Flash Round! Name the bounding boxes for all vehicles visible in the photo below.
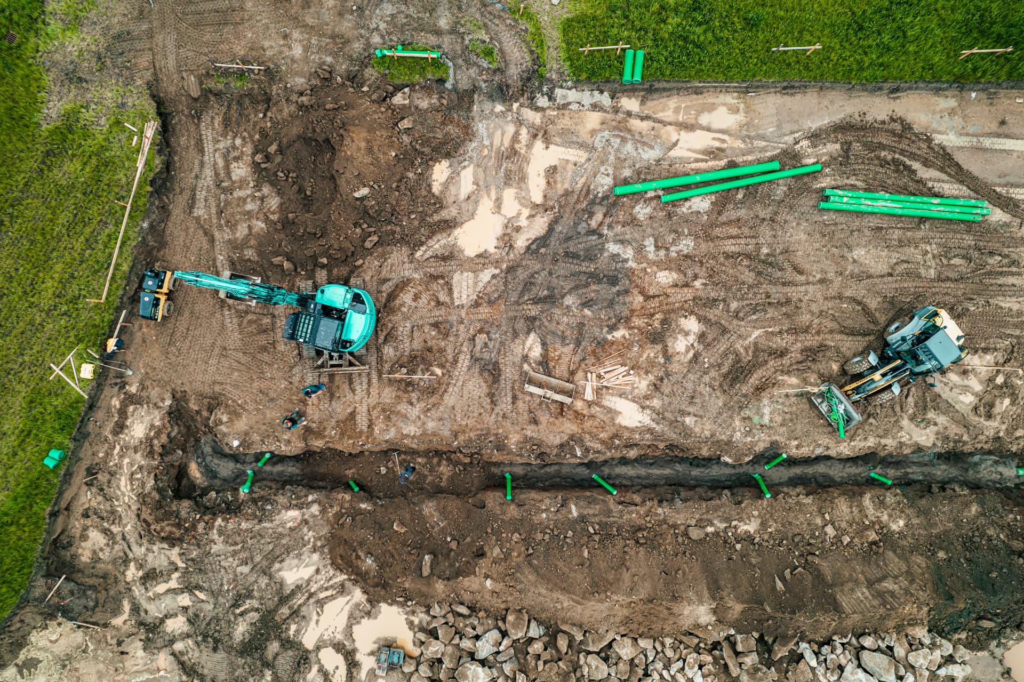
[810,306,968,433]
[169,269,381,376]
